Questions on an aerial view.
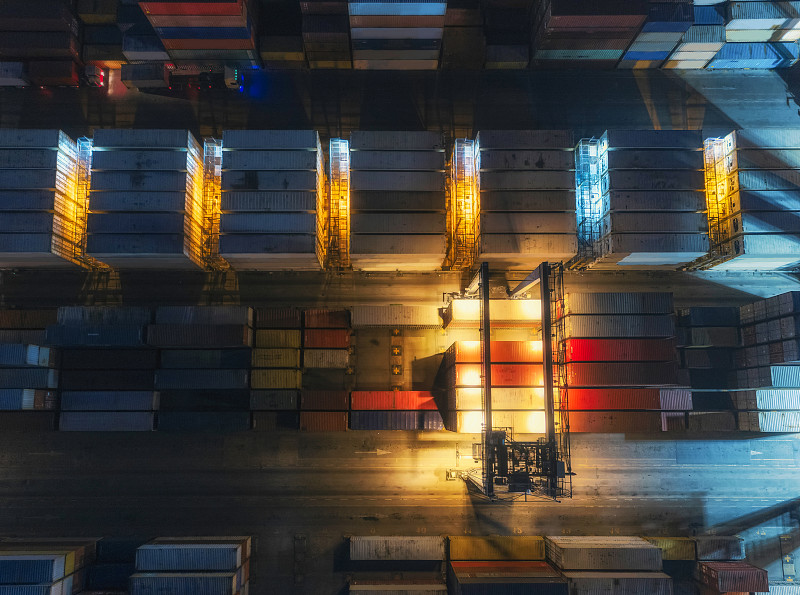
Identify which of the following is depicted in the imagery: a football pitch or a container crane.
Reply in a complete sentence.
I can see a container crane in this picture.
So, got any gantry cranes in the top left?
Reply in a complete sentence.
No, there is no gantry crane in the top left.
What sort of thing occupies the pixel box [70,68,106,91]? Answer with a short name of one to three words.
truck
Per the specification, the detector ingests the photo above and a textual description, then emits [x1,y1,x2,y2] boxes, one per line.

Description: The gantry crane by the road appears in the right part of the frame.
[437,262,580,508]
